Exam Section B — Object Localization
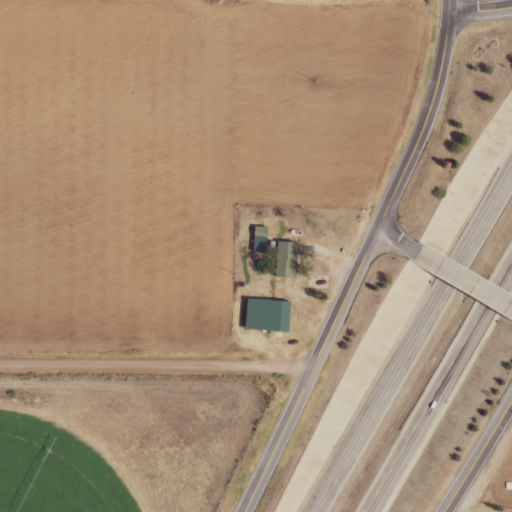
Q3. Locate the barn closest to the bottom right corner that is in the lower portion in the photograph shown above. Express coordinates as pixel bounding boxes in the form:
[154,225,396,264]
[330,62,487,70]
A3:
[246,298,292,332]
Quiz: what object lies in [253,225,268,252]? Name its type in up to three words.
shed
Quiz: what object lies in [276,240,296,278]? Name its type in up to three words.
house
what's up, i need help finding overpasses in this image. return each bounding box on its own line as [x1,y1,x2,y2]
[408,242,512,321]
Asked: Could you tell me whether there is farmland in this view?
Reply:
Yes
